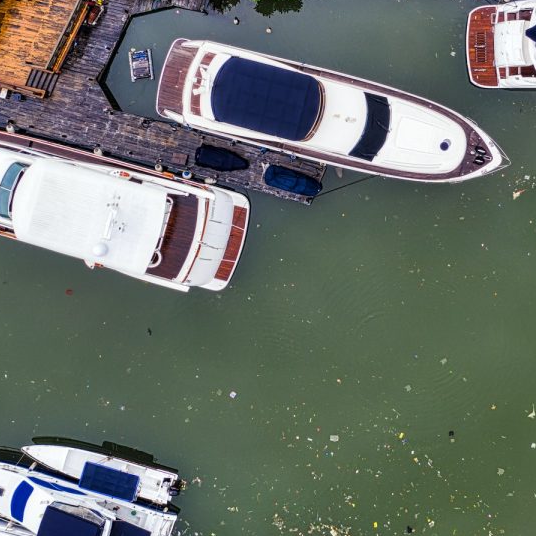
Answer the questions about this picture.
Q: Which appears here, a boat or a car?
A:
boat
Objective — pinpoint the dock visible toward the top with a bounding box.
[0,0,327,204]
